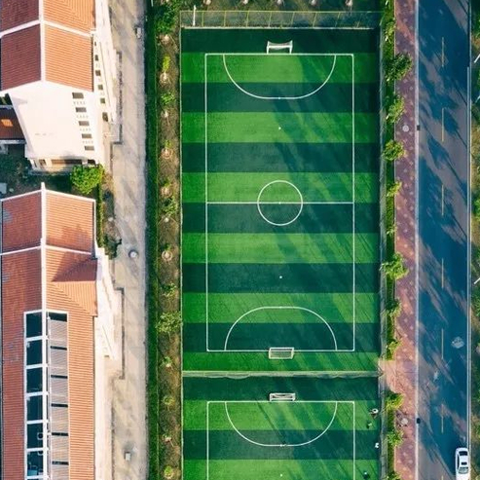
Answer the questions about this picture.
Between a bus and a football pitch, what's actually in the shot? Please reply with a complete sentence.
The one in the frame is a football pitch.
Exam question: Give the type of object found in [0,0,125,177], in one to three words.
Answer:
building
